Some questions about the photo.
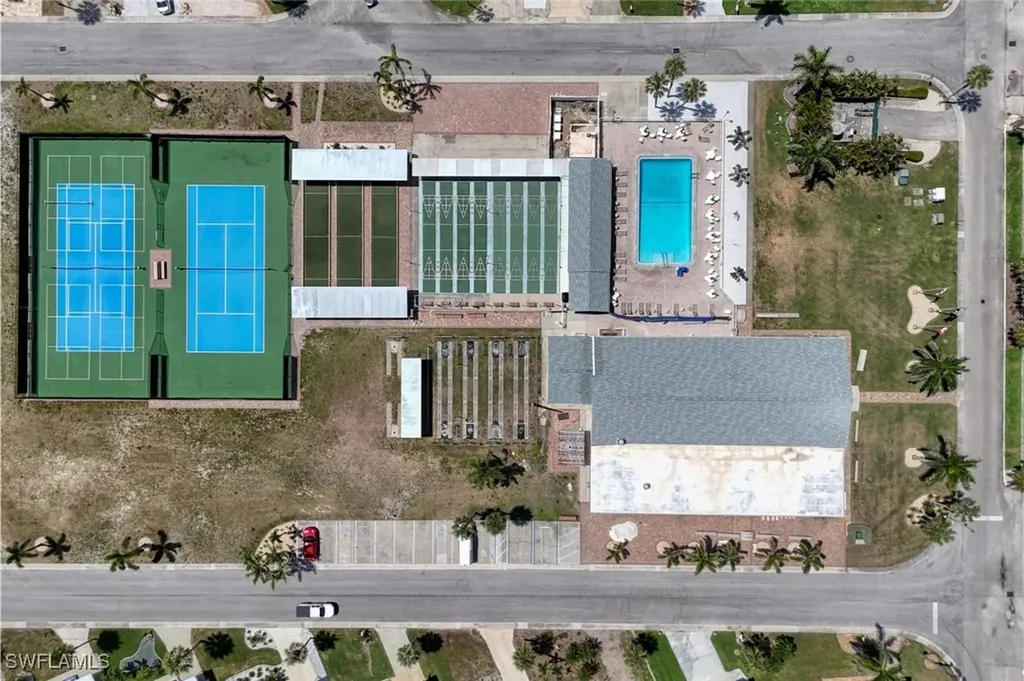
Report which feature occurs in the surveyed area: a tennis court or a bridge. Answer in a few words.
tennis court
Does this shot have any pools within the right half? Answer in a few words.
Yes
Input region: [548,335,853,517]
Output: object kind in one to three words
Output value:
building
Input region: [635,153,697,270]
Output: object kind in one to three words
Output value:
swimming pool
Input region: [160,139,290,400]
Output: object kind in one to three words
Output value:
tennis court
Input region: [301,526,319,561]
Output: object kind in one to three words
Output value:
car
